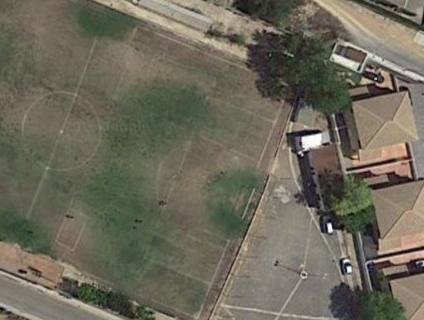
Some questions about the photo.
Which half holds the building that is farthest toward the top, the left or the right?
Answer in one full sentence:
The building that is farthest toward the top is on the right side of the image.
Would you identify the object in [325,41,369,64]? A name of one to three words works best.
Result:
building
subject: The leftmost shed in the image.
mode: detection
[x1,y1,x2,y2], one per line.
[290,107,318,129]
